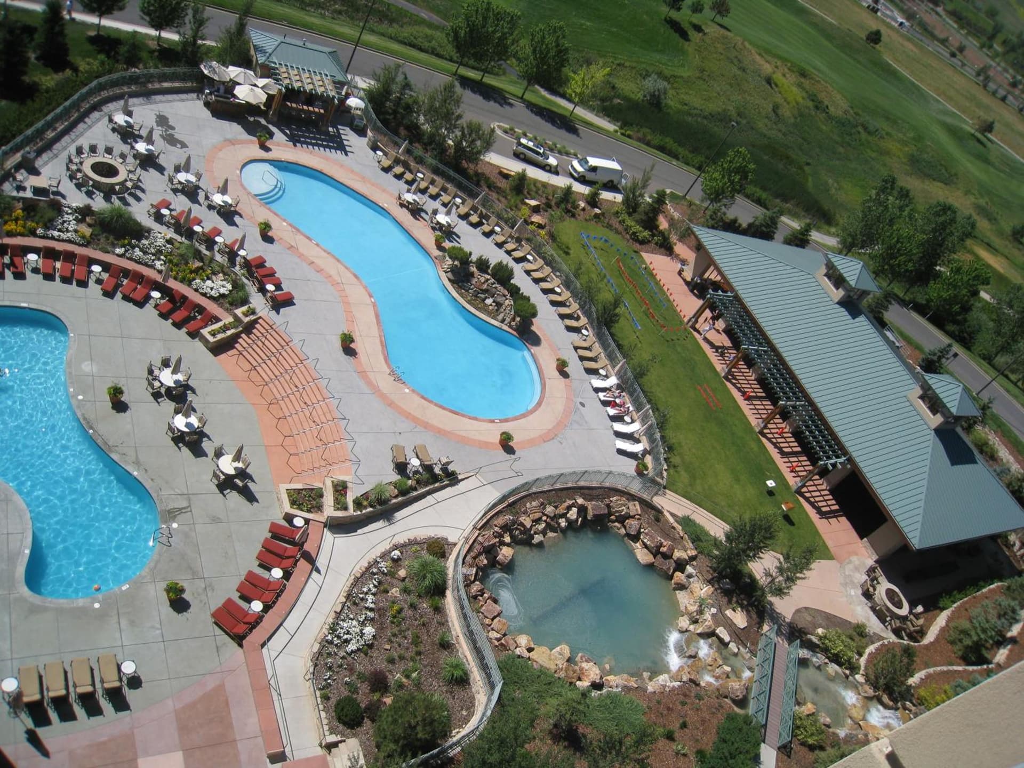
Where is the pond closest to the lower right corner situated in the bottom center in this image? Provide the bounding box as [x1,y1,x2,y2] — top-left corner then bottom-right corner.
[478,516,688,691]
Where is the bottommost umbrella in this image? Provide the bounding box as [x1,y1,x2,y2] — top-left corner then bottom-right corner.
[7,686,24,724]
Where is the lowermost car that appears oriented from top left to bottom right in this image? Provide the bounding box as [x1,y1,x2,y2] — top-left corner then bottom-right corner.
[513,135,558,170]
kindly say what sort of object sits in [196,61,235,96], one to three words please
umbrella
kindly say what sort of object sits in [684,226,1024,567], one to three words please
building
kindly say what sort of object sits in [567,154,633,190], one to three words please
van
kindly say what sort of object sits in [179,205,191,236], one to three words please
umbrella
